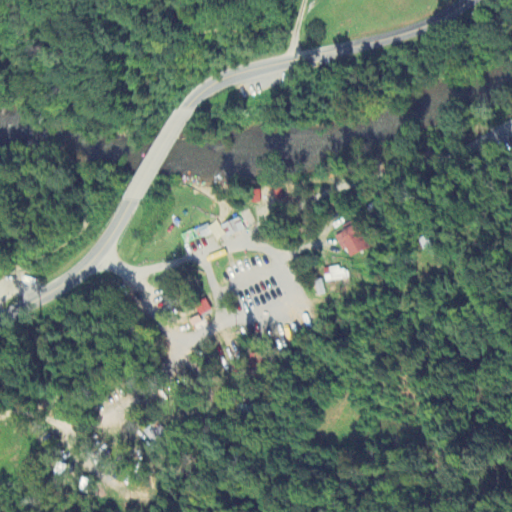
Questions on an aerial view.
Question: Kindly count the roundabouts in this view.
0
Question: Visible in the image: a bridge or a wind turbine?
bridge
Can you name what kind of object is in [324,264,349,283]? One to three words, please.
house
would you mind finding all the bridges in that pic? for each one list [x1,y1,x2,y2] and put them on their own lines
[124,105,192,198]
